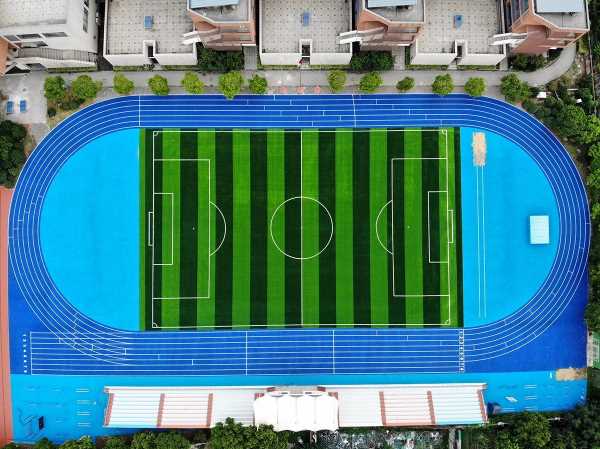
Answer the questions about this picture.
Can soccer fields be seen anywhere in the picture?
Yes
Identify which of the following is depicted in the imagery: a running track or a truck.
running track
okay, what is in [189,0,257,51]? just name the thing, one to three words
building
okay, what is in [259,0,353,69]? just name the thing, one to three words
building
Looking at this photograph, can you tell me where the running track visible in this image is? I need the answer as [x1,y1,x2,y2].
[6,93,594,375]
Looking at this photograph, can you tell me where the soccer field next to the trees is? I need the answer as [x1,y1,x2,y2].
[139,127,463,329]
